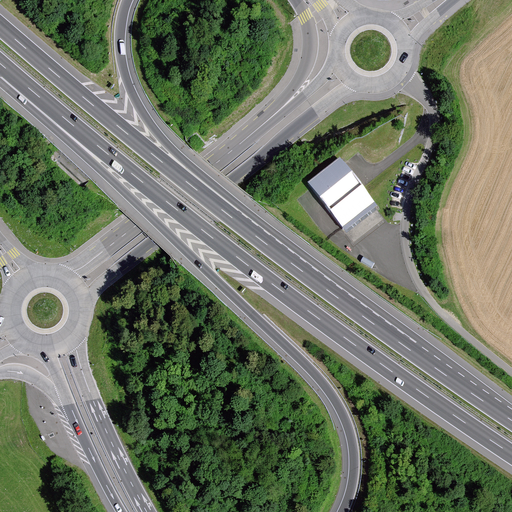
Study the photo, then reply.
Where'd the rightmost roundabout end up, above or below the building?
above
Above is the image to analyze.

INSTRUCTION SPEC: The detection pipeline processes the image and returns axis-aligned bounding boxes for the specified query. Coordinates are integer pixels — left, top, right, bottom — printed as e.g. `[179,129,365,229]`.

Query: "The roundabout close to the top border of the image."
[303,0,441,114]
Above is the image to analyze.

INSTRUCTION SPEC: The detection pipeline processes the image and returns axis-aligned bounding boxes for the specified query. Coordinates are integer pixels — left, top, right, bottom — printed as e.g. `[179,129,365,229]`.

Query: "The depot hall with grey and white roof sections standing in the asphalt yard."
[308,158,378,232]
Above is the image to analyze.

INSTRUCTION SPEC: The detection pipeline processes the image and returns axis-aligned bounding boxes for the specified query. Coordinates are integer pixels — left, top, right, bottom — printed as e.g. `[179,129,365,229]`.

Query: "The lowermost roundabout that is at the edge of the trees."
[0,232,126,406]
